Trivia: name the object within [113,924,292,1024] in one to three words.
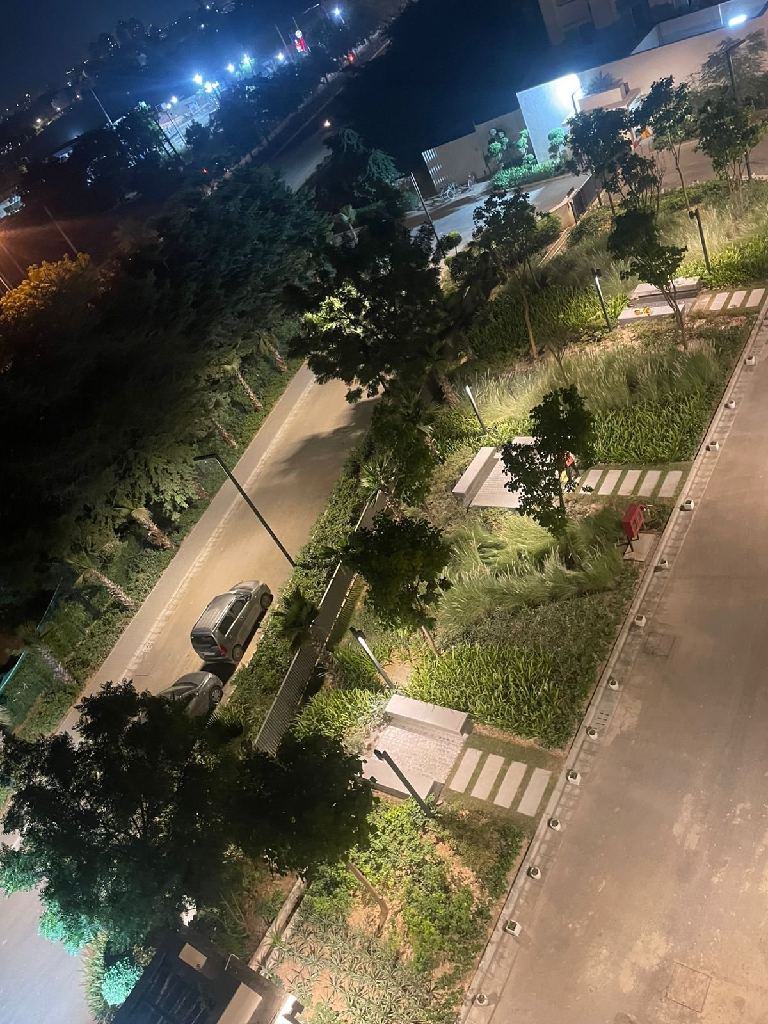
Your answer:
building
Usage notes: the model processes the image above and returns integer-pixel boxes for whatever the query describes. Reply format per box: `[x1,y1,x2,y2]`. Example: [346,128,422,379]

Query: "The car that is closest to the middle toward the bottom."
[182,579,267,668]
